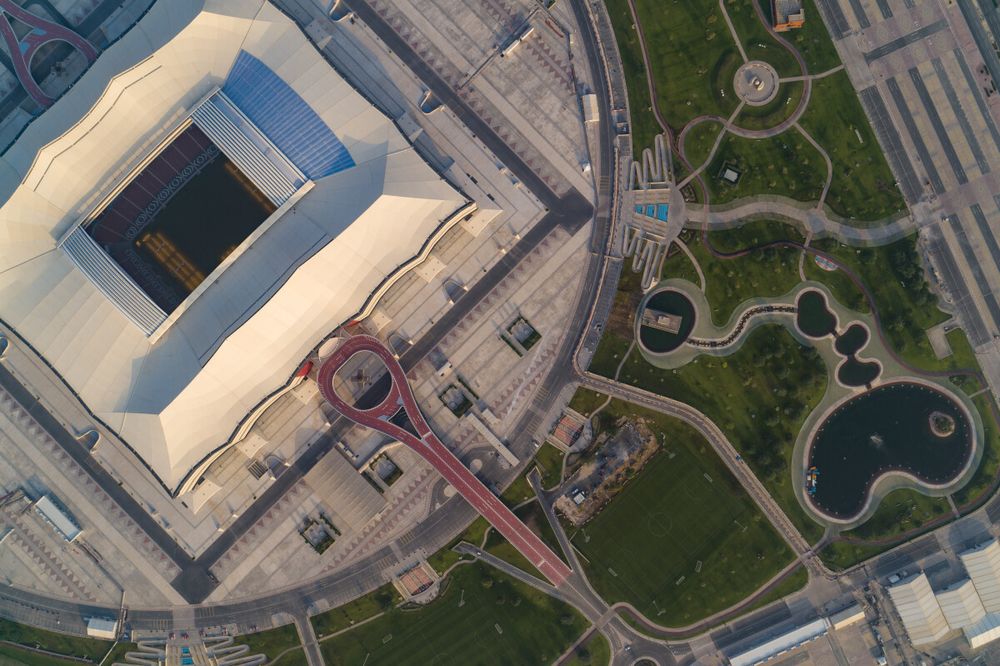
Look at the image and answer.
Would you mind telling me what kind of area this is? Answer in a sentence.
What you see here is a sports ground.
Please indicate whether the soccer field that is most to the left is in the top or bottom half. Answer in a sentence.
The soccer field that is most to the left is in the top half of the image.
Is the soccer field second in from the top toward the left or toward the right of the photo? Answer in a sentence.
The soccer field second in from the top sits on the right side.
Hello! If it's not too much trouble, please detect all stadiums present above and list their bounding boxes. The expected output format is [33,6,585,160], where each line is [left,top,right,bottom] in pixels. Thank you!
[0,0,503,513]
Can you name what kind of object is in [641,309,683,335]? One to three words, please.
building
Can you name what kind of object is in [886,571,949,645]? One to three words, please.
tent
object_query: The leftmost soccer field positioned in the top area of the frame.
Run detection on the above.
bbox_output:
[136,154,286,298]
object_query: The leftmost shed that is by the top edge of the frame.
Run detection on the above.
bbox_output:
[501,24,534,58]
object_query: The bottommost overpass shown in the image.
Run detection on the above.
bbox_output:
[317,335,571,588]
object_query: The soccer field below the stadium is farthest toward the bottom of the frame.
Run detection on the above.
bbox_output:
[355,577,539,666]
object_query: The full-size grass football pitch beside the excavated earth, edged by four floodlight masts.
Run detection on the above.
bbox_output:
[571,437,748,611]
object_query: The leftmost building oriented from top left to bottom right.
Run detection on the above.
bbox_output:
[35,495,85,542]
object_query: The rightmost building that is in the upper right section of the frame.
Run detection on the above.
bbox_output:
[772,0,806,31]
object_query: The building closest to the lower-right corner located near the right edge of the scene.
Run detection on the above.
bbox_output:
[960,610,1000,641]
